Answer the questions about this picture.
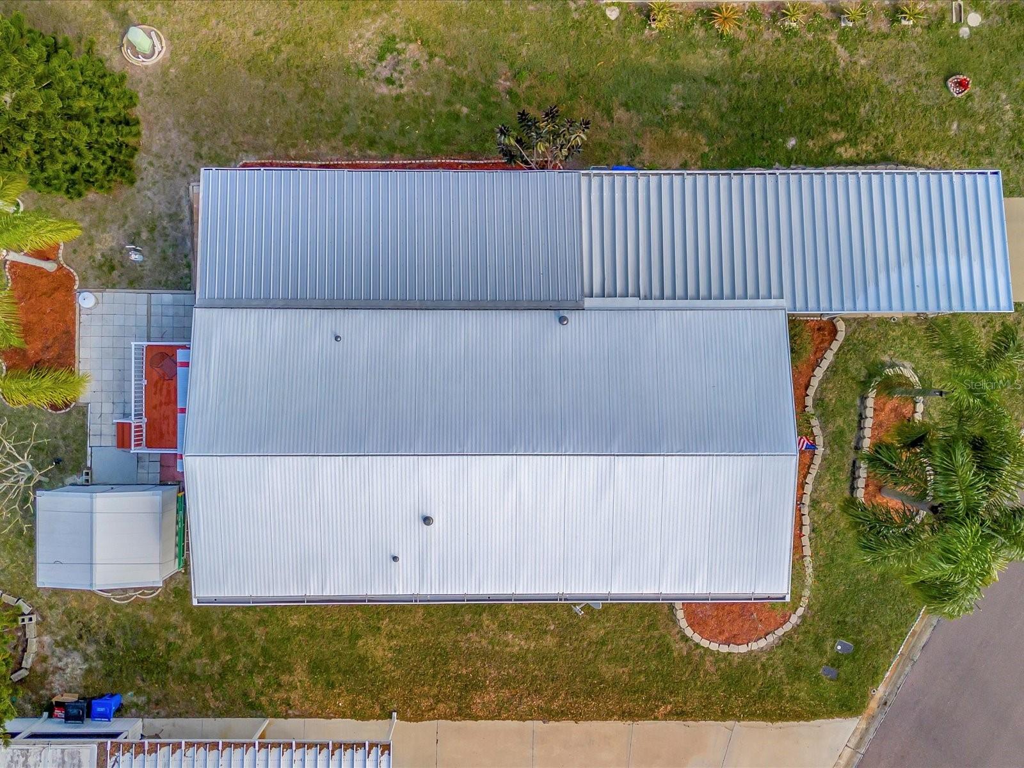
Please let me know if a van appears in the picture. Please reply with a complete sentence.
No, there isn't any van down there.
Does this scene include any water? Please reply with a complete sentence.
No, there's no water in this view.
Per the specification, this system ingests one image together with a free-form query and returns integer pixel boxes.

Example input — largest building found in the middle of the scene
[176,298,799,603]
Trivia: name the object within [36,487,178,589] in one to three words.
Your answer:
shed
